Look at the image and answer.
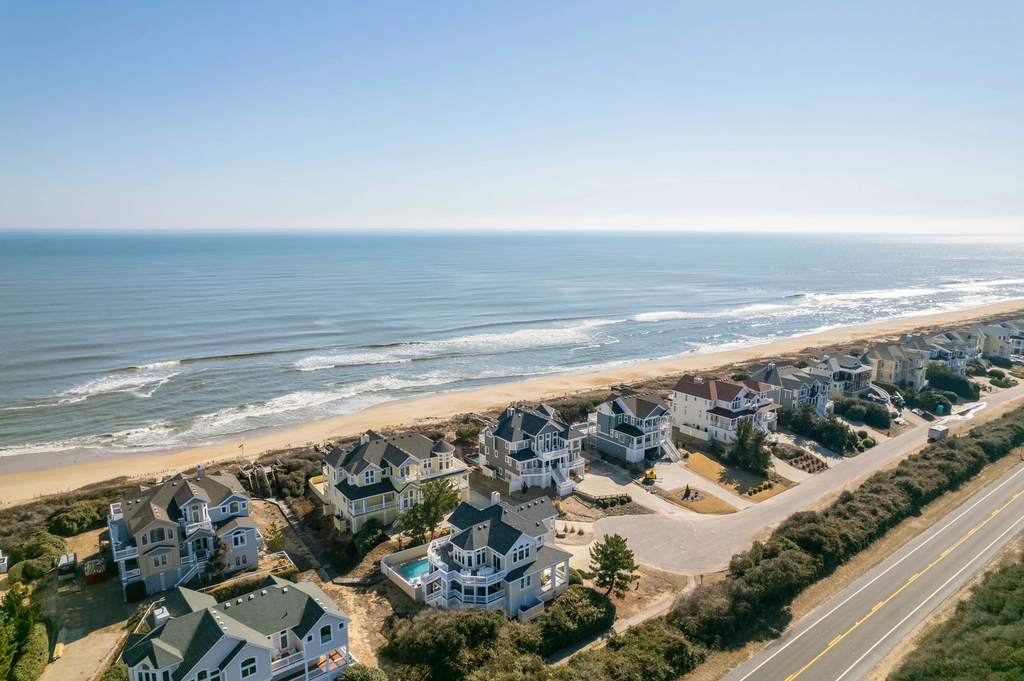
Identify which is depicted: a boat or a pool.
pool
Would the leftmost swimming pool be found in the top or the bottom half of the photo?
bottom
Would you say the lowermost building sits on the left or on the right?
left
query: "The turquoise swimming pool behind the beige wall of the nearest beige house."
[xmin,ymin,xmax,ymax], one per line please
[387,554,439,596]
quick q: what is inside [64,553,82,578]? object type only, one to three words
vehicle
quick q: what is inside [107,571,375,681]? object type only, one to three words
building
